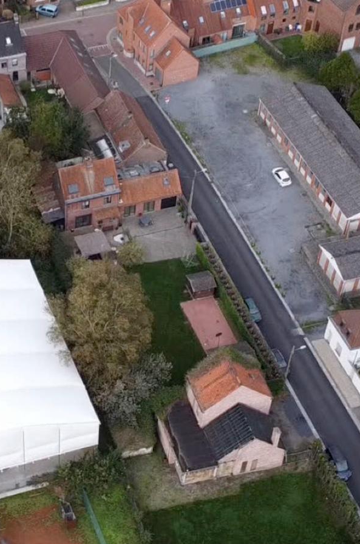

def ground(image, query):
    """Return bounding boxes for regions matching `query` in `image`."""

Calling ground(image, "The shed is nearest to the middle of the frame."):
[182,269,219,300]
